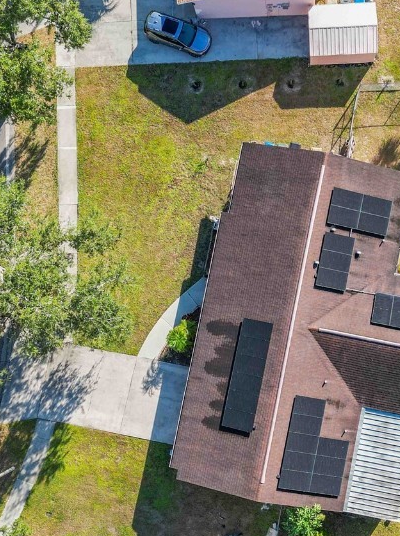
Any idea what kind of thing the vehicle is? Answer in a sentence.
Specifically, the vehicle is an automobile.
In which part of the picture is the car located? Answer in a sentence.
You can find the car in the top area of the picture.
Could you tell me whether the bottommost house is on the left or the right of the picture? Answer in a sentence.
The bottommost house sits on the right side.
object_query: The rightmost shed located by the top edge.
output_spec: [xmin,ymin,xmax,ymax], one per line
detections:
[308,1,377,65]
